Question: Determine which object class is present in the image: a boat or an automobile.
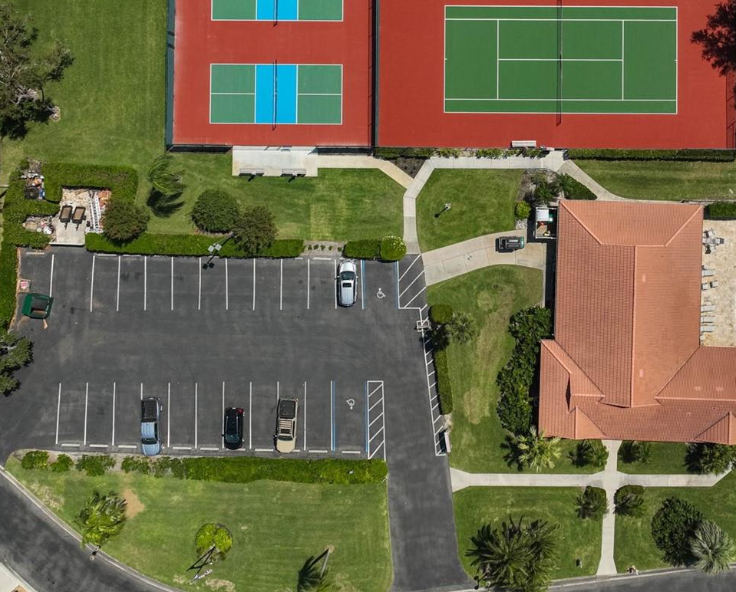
automobile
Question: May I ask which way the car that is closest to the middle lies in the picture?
up and down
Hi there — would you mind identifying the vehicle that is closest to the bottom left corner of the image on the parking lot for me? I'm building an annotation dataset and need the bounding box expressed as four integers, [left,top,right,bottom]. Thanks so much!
[134,398,161,458]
